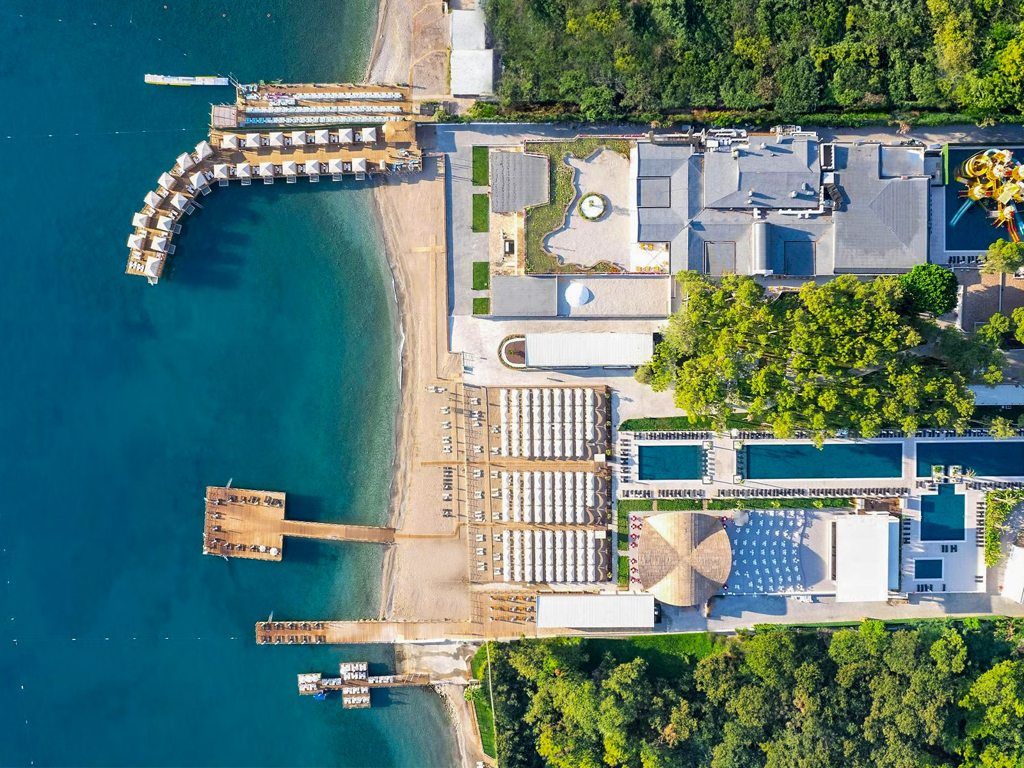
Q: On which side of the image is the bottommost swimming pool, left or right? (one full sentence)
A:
You can find the bottommost swimming pool on the right side of the picture.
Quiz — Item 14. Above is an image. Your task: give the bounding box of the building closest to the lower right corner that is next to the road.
[988,541,1024,605]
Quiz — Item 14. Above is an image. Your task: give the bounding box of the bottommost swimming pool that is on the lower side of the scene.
[913,558,944,580]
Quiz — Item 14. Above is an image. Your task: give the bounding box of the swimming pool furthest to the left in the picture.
[637,444,710,481]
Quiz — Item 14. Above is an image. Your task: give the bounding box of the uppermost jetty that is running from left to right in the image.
[145,74,229,87]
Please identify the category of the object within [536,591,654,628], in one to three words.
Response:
building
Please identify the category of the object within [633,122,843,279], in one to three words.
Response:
building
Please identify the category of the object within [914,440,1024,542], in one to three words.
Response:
swimming pool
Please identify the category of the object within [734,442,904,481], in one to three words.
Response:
swimming pool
